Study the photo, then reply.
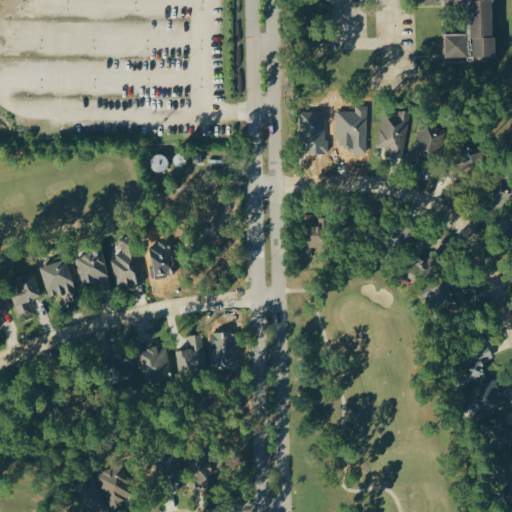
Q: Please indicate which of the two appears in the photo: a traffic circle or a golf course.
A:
golf course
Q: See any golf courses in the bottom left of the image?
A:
No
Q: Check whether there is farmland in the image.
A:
No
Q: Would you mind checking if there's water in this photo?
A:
No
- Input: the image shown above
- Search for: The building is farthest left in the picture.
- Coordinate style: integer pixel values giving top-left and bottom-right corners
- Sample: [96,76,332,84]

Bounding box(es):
[10,273,46,322]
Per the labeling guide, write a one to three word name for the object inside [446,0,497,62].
building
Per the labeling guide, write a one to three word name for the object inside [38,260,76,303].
house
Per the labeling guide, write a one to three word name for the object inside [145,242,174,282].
house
